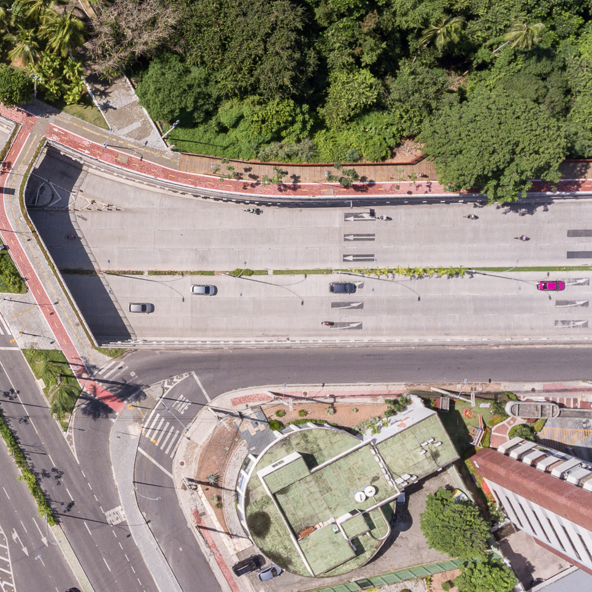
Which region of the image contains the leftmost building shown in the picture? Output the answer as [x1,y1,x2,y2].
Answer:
[230,417,403,580]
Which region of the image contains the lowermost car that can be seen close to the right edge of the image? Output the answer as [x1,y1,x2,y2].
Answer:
[536,279,563,292]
